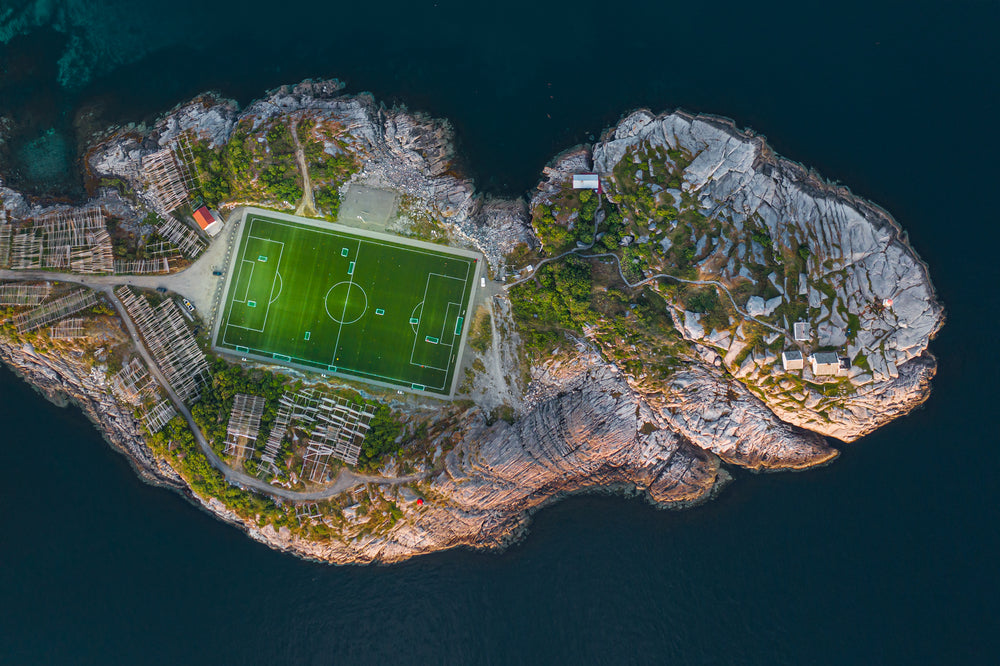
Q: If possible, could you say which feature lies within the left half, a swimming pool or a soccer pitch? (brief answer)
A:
soccer pitch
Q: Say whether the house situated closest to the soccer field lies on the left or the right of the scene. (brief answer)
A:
left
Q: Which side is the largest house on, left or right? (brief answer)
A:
right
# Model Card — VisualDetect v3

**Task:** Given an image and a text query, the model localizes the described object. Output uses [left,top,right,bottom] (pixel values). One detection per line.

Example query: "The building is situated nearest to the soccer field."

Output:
[194,207,218,229]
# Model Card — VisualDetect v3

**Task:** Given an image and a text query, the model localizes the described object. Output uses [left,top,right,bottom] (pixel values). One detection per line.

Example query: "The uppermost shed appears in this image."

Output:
[573,175,602,194]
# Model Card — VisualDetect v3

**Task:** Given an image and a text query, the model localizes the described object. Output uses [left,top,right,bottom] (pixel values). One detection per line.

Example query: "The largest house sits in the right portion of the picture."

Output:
[808,353,850,375]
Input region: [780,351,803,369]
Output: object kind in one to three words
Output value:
house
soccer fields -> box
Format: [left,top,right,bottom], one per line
[212,207,483,399]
